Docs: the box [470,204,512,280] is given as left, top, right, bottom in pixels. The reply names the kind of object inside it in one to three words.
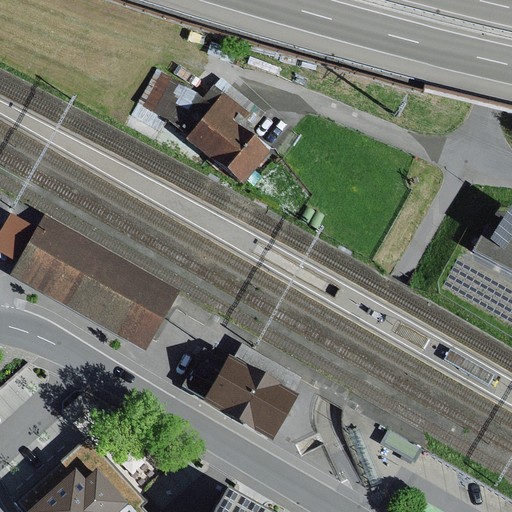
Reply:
building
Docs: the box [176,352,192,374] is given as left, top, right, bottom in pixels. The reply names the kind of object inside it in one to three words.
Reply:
vehicle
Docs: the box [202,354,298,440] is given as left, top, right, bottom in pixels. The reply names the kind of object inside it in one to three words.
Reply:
house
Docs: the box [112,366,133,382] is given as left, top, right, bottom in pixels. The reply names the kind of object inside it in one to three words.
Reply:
car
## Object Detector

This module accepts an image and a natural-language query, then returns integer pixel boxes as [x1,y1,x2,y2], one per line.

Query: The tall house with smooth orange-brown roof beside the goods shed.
[0,208,30,268]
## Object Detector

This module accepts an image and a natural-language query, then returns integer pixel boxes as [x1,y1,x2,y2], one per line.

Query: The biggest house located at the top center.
[186,93,272,184]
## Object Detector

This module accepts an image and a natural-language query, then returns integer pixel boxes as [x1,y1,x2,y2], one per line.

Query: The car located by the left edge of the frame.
[17,444,38,464]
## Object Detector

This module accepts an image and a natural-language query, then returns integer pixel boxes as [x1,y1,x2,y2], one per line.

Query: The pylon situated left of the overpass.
[392,100,411,118]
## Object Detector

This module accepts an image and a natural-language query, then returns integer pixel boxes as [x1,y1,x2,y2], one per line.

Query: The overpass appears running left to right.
[422,86,512,115]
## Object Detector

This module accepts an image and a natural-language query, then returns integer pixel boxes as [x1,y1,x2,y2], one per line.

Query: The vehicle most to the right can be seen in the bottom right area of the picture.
[469,482,482,505]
